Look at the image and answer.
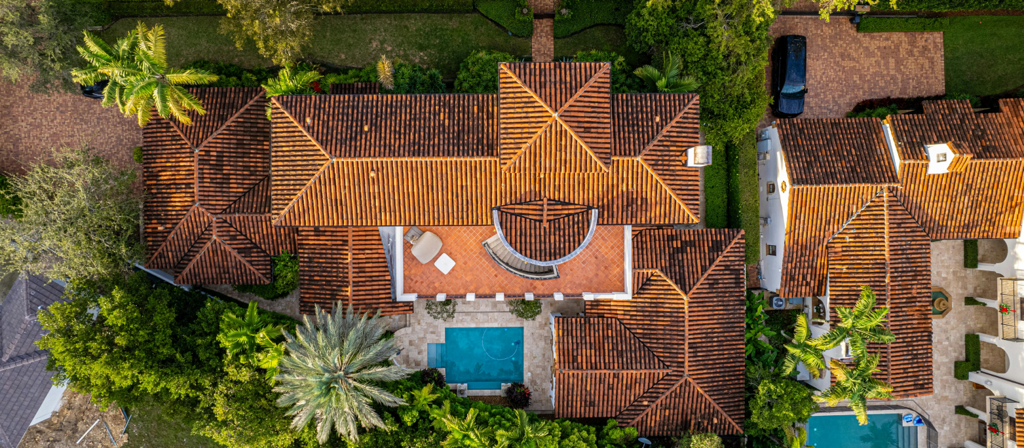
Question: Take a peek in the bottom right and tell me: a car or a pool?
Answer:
pool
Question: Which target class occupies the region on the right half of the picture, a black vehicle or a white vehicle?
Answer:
black vehicle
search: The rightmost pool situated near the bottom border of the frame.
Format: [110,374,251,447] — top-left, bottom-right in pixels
[799,404,919,448]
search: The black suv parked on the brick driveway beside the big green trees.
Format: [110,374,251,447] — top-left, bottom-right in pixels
[770,37,813,118]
